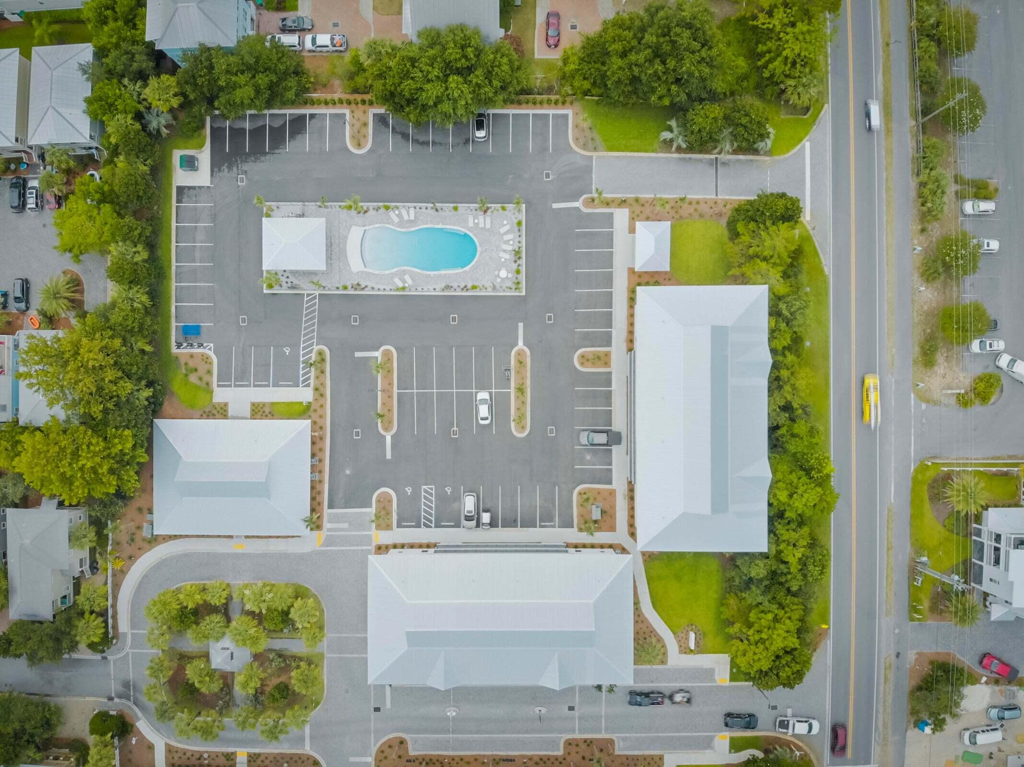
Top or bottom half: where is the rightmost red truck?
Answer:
bottom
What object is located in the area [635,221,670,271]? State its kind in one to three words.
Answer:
building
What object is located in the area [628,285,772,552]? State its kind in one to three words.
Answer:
building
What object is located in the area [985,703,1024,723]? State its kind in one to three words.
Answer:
car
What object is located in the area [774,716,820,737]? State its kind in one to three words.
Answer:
truck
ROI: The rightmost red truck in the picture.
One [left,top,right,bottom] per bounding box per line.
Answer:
[976,651,1024,684]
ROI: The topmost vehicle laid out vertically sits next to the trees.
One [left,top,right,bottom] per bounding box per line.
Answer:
[545,10,561,48]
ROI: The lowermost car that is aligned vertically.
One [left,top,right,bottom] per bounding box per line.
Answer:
[830,722,849,760]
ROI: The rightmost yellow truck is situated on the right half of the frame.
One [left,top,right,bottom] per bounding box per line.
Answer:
[861,374,885,427]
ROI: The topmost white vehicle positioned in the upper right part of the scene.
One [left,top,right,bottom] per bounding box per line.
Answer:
[862,96,883,134]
